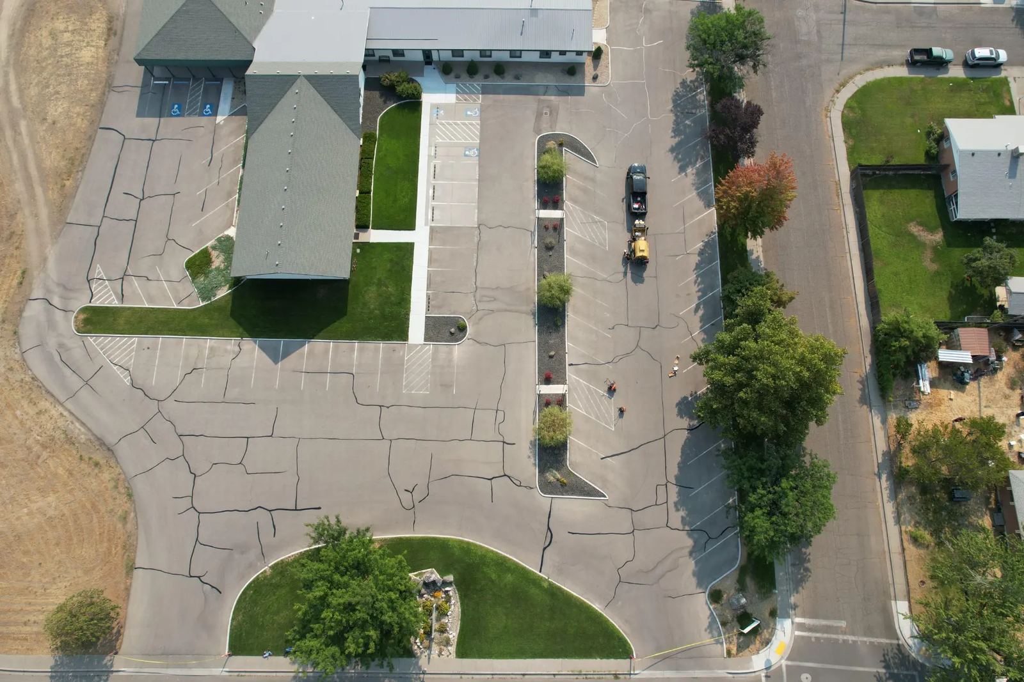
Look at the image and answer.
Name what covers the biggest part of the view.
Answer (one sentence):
What you mostly see from above here is paved ground.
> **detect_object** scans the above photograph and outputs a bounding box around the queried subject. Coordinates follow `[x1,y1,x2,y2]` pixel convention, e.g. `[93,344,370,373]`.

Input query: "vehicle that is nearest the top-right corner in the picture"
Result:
[963,47,1006,67]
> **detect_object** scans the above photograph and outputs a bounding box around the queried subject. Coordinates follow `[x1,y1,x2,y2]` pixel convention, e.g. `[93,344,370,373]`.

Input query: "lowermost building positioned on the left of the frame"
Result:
[232,63,367,279]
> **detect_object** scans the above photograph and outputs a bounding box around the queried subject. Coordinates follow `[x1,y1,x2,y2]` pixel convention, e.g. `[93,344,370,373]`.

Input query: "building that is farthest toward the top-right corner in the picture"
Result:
[938,115,1024,222]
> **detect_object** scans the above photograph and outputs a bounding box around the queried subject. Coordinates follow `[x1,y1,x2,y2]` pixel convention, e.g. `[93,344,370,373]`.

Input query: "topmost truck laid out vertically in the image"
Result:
[628,166,649,217]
